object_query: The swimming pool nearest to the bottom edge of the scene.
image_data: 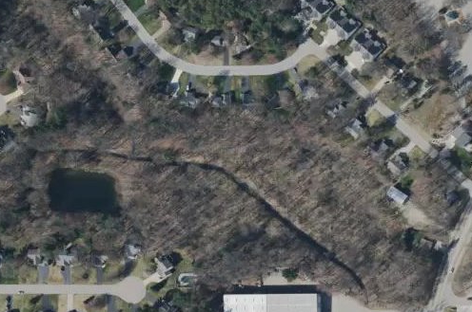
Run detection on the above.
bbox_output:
[179,273,196,286]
